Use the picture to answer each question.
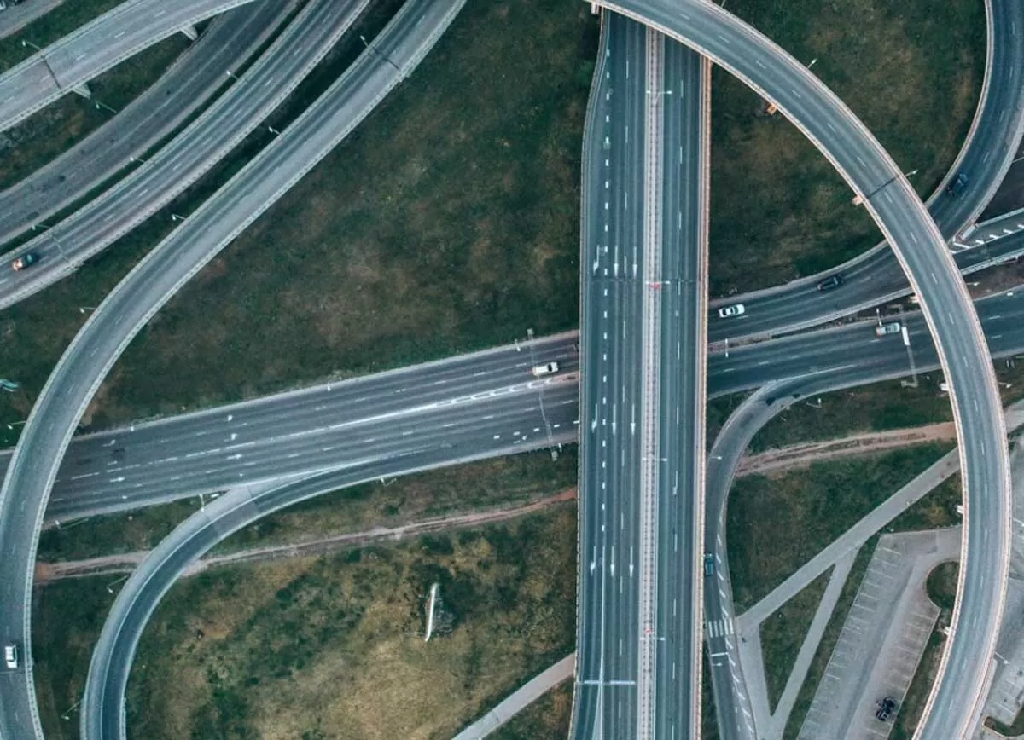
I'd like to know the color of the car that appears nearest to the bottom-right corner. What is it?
black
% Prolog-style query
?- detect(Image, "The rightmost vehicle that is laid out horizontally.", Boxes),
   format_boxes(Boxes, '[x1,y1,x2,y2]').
[876,322,903,335]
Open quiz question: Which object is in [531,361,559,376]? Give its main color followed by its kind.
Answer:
white vehicle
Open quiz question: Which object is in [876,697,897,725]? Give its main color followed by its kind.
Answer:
black car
